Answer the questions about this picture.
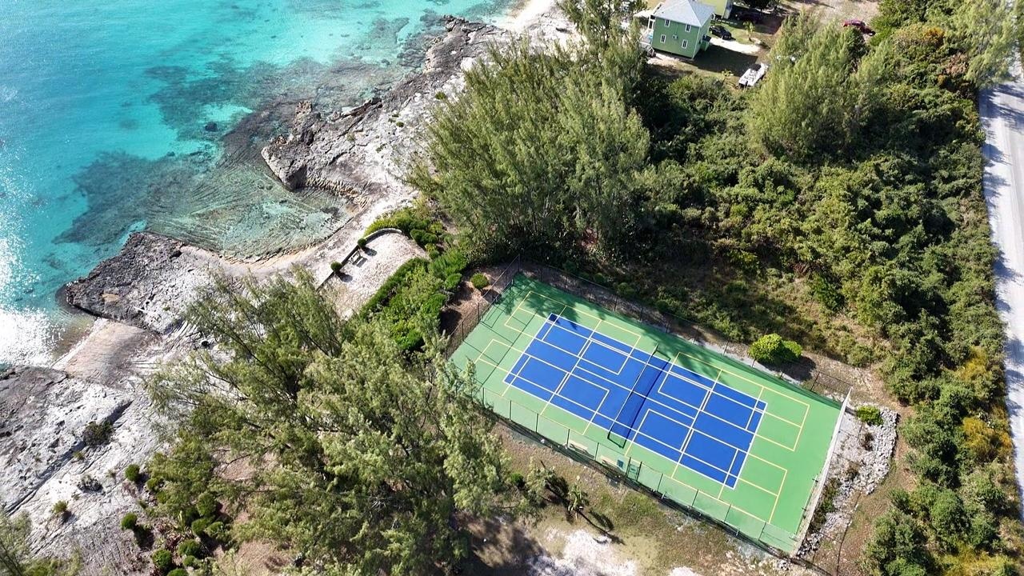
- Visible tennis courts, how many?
one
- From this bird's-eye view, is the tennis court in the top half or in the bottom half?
bottom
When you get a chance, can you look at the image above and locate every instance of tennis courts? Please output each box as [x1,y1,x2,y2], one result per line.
[430,273,841,559]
